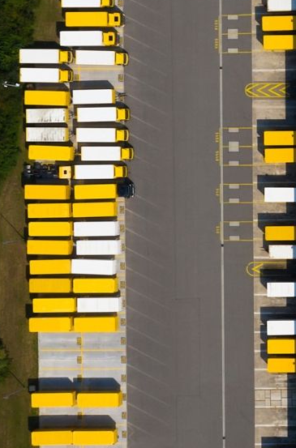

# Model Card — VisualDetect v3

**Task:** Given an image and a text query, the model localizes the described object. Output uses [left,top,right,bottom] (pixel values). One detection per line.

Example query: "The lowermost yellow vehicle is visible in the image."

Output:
[74,183,134,200]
